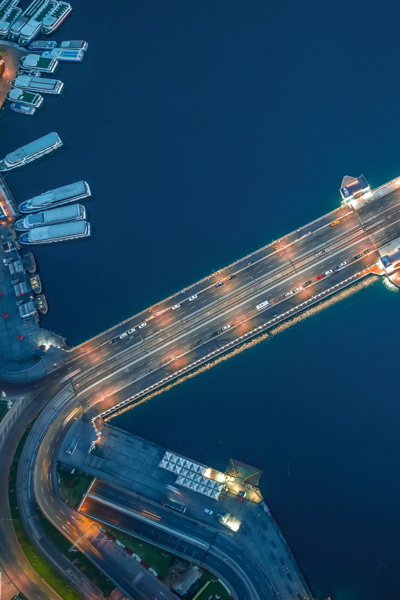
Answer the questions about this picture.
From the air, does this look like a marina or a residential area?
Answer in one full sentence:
The area seen from above is a marina.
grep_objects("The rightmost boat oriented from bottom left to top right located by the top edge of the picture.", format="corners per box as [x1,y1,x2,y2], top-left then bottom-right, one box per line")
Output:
[43,2,71,37]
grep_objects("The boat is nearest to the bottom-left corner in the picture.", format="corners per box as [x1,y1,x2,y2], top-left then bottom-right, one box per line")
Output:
[34,293,50,315]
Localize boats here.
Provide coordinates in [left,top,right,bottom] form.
[43,48,87,64]
[61,41,91,54]
[0,9,23,39]
[43,2,71,37]
[34,293,50,315]
[20,0,57,47]
[9,0,46,43]
[0,134,66,172]
[27,273,43,295]
[11,104,38,116]
[20,222,92,246]
[12,78,66,95]
[21,56,60,74]
[23,252,38,274]
[7,91,46,108]
[28,41,58,53]
[0,0,20,22]
[14,205,88,231]
[20,183,92,212]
